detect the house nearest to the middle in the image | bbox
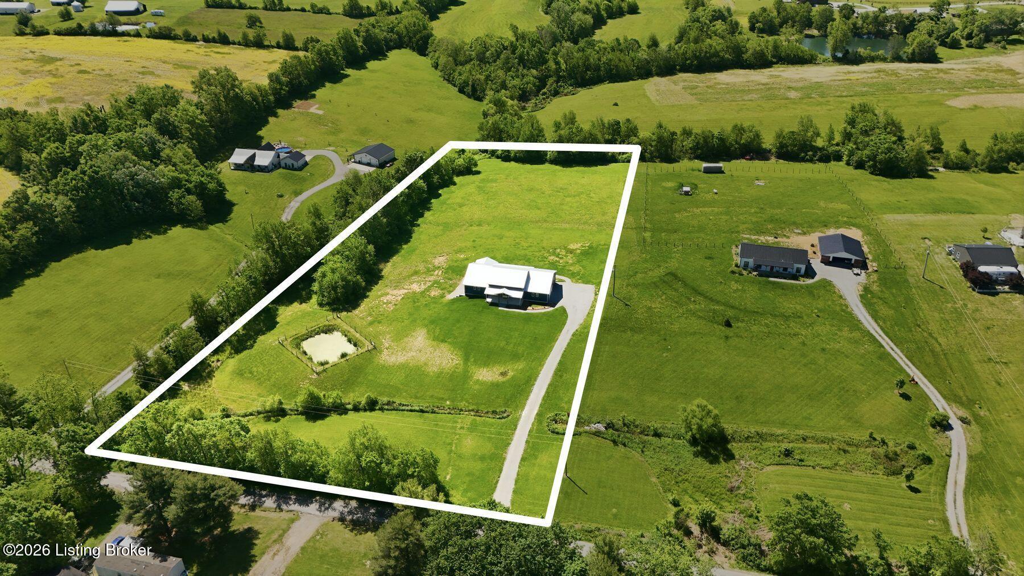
[463,252,556,306]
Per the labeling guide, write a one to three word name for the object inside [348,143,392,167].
shed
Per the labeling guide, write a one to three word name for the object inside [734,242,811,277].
house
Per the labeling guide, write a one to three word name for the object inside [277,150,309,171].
building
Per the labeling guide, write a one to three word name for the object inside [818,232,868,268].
building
